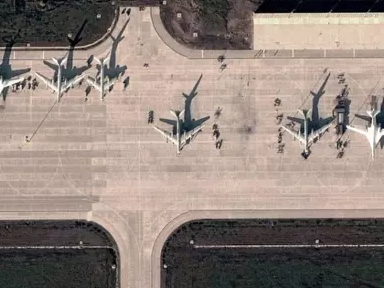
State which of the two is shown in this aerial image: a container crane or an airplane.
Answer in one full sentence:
This aerial view contains an airplane.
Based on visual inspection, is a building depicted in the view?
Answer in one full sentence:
No, there appears to be no building in this shot.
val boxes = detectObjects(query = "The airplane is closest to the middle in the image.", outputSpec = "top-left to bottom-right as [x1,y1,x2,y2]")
[154,107,204,154]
